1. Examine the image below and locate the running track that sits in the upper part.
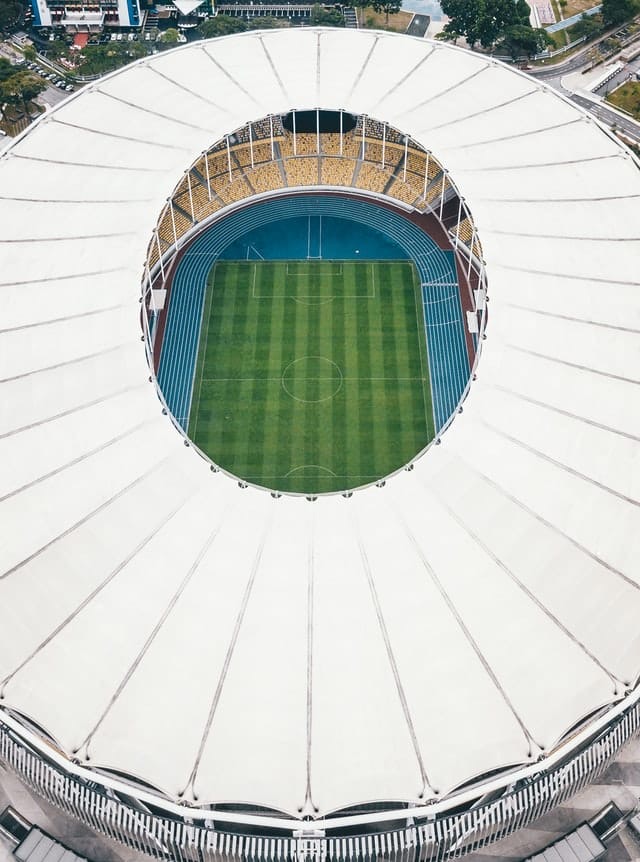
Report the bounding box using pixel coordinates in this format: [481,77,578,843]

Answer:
[142,195,485,449]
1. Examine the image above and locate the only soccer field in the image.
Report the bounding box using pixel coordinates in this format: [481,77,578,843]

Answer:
[186,257,437,504]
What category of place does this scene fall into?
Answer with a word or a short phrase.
sports ground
